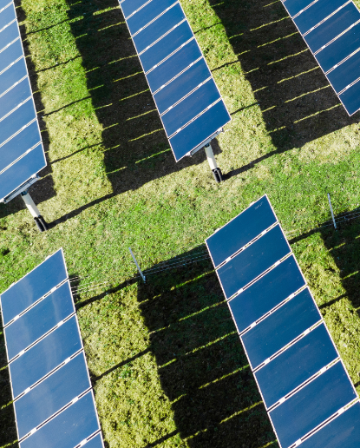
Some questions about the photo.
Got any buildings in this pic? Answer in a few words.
No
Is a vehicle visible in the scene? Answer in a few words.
No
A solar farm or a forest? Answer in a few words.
solar farm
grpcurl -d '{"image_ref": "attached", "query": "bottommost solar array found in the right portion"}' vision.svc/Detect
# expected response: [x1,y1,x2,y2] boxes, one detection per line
[206,194,360,448]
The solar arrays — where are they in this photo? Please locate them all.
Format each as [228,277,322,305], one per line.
[0,0,50,235]
[206,194,360,448]
[119,0,232,188]
[282,0,360,116]
[0,248,104,448]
